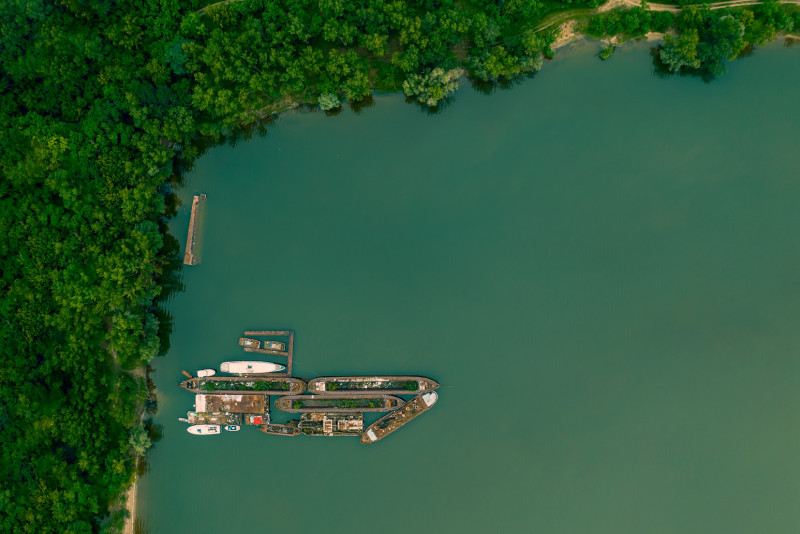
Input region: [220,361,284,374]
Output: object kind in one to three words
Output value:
boat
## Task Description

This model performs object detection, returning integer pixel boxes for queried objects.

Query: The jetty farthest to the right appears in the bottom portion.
[236,331,295,377]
